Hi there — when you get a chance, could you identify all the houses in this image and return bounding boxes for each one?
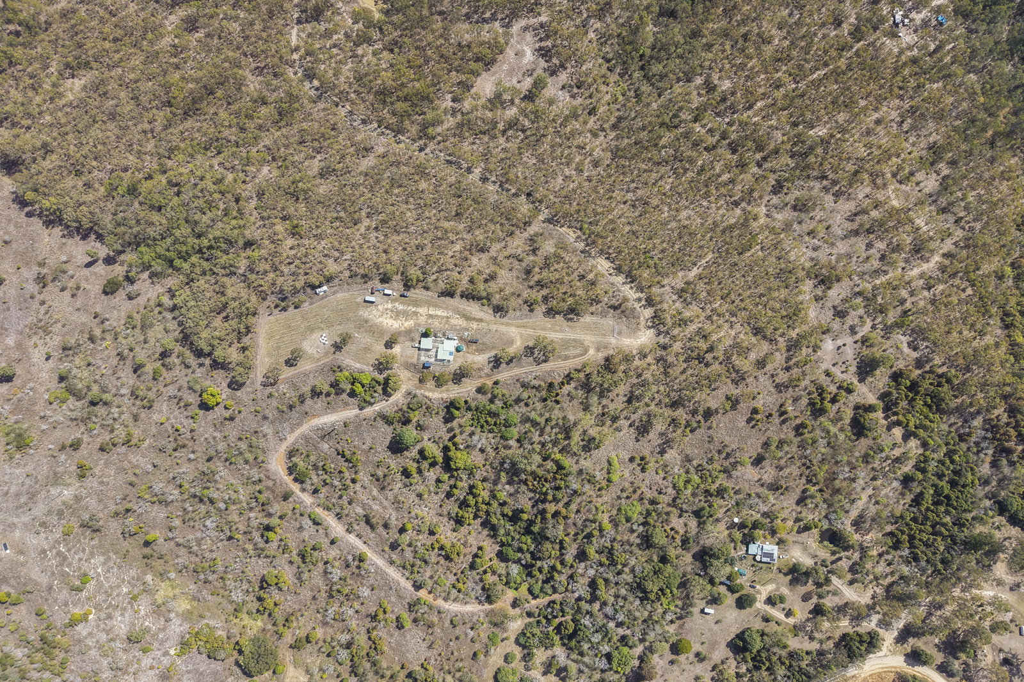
[417,340,457,366]
[747,544,778,563]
